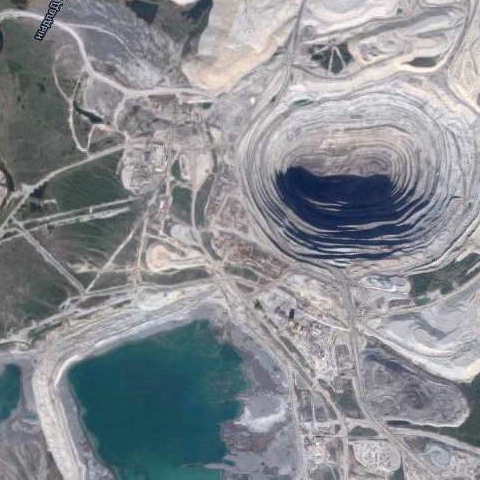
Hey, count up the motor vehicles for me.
0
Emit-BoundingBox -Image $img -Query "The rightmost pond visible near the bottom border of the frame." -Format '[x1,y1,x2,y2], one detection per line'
[68,317,249,480]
